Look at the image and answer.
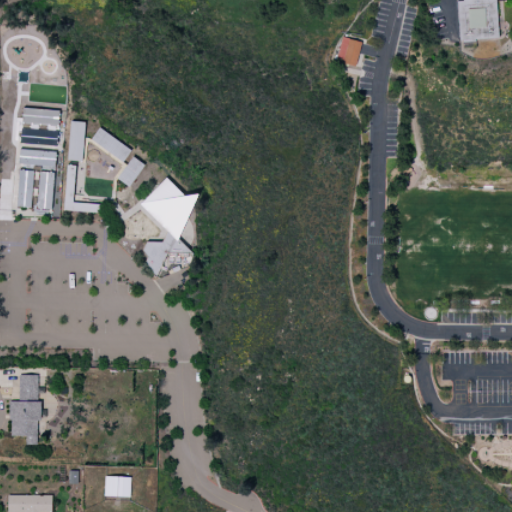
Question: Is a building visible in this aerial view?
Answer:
Yes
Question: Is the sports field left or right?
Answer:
right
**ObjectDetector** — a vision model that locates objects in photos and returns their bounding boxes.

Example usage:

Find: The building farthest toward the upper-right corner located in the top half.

[459,0,500,42]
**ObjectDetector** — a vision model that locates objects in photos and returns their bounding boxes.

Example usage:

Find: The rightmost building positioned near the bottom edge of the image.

[104,477,132,499]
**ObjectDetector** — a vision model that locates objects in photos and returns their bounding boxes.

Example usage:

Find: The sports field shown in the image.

[396,190,512,312]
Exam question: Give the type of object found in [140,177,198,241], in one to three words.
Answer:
building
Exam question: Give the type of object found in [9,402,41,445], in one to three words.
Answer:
house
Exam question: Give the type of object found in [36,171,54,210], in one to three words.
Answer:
building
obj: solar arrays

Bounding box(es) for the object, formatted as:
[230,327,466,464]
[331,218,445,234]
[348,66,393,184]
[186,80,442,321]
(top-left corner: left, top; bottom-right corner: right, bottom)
[21,135,58,144]
[22,127,58,136]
